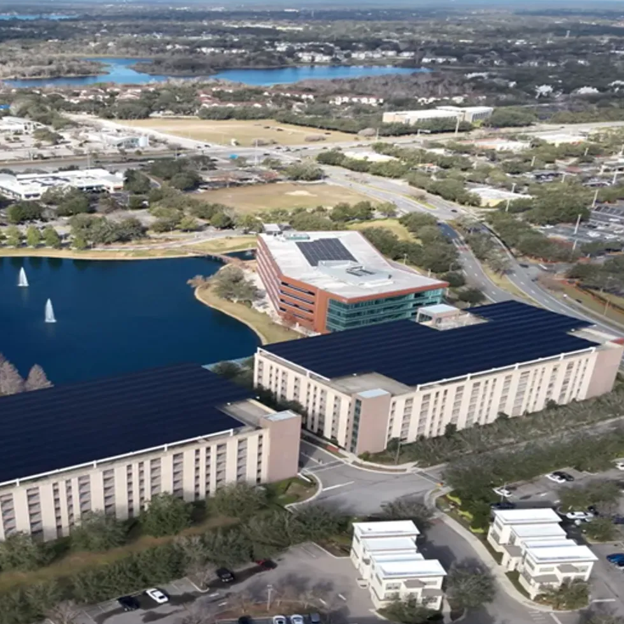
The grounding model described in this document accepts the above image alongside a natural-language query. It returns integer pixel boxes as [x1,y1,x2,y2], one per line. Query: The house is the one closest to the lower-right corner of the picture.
[490,507,598,598]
